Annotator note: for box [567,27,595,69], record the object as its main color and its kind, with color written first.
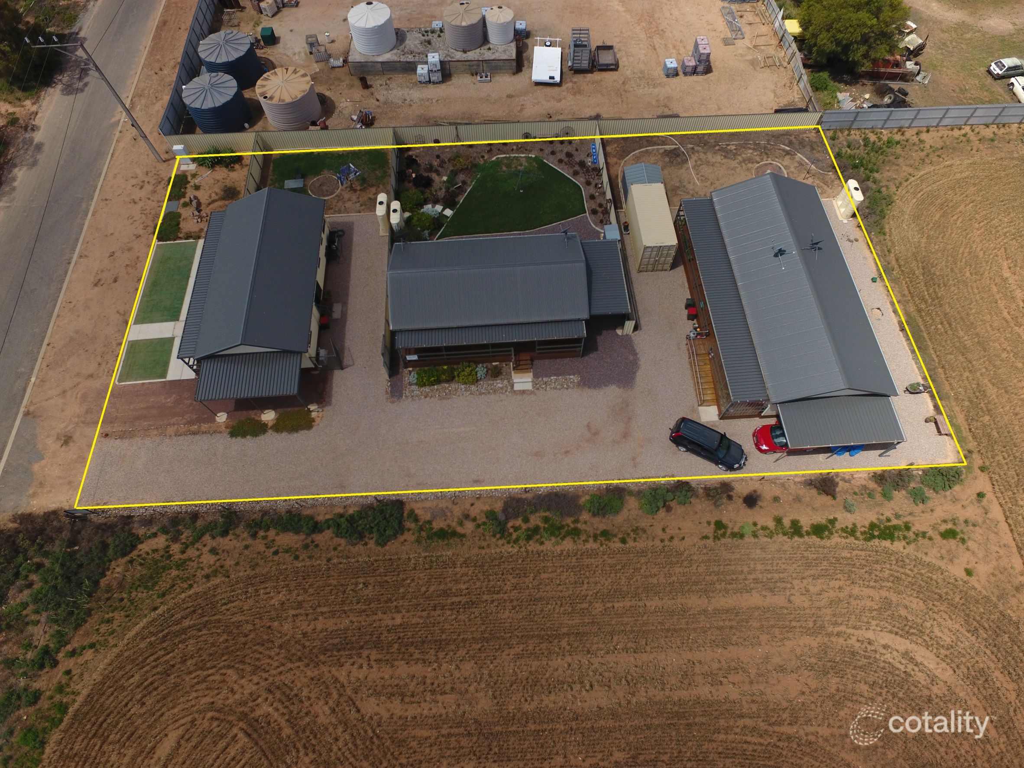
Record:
gray trailer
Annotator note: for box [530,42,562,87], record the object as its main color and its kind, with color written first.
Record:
white trailer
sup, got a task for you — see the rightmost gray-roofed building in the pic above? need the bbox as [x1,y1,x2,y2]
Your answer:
[673,172,909,463]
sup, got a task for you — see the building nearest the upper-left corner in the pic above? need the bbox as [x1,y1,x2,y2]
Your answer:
[174,188,331,417]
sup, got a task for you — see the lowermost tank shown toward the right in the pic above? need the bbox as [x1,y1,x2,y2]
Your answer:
[830,178,863,221]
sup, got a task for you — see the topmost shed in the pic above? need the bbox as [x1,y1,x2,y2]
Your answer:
[620,162,667,208]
